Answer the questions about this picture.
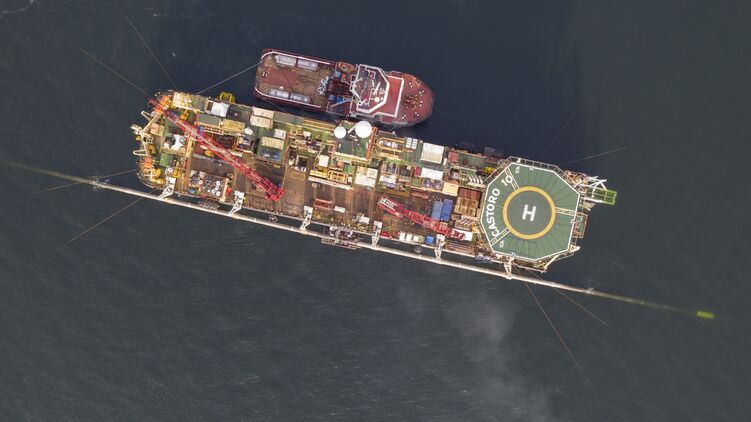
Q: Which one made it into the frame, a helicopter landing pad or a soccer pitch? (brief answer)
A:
helicopter landing pad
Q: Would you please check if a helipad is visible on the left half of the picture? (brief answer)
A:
No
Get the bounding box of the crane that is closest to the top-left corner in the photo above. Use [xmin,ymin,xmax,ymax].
[147,97,287,200]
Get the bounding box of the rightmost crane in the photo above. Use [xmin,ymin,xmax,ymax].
[373,196,466,239]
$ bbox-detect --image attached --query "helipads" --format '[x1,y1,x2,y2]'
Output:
[479,155,587,261]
